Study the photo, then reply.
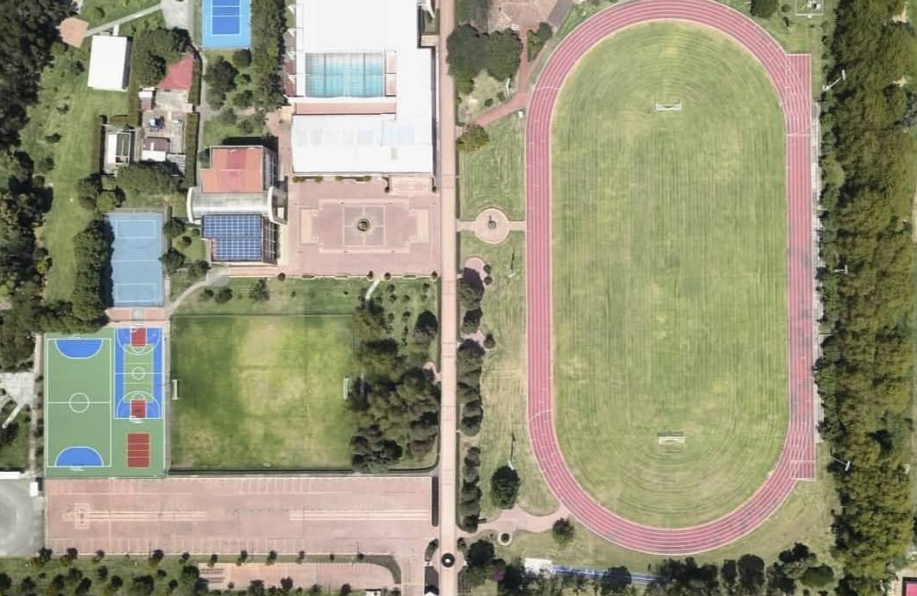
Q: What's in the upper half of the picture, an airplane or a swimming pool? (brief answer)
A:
swimming pool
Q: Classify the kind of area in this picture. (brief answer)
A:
sports ground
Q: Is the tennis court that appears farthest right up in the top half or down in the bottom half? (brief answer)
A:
top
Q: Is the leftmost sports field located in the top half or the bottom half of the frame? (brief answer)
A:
bottom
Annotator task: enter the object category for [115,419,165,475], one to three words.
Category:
sports court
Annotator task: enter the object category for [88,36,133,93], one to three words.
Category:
shed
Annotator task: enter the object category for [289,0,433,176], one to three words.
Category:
building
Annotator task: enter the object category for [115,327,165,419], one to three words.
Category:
basketball court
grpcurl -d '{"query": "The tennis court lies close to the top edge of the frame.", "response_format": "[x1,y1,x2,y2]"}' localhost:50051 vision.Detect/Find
[201,0,252,48]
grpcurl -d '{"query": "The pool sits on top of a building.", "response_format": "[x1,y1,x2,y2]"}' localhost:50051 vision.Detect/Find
[308,57,386,98]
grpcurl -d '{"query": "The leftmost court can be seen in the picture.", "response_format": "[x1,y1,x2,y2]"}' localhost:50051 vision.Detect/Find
[44,327,115,477]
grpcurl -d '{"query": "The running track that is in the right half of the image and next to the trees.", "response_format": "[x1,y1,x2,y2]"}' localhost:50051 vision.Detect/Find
[527,0,814,554]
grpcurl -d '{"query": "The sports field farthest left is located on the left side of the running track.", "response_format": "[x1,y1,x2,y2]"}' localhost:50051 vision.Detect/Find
[170,316,354,470]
